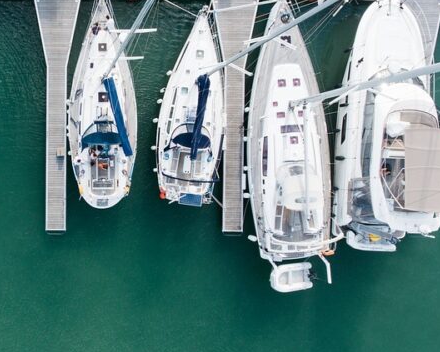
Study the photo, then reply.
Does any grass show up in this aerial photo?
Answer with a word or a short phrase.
No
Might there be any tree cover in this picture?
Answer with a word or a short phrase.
No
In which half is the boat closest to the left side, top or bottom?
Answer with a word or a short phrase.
top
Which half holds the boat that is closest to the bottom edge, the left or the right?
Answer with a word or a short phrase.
right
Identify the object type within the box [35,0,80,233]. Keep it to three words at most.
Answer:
pier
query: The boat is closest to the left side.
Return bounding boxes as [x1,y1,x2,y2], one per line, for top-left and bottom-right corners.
[69,0,157,208]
